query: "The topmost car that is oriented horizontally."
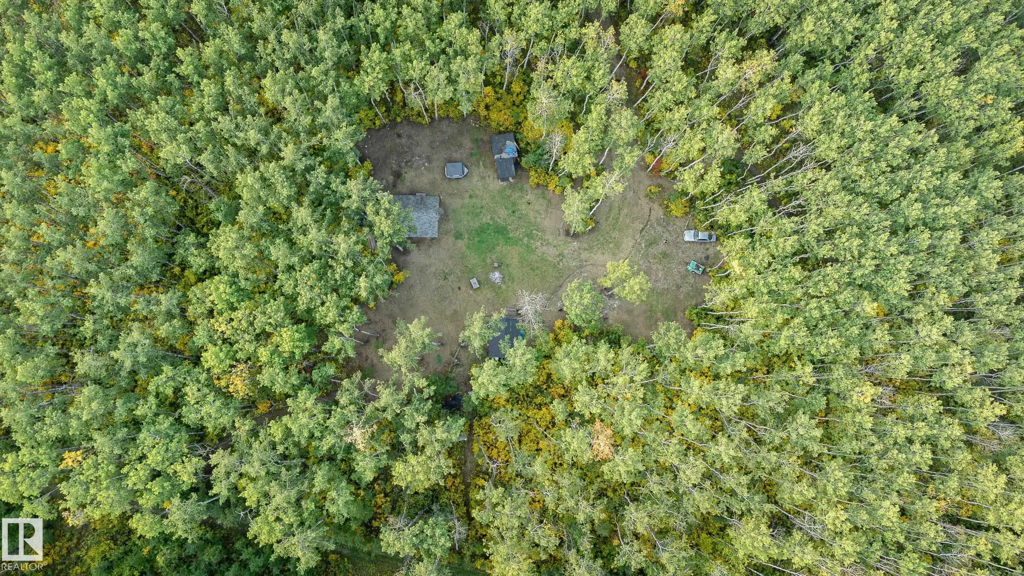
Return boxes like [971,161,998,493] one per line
[684,229,717,243]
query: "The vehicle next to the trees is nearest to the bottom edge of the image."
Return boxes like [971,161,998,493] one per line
[687,260,705,275]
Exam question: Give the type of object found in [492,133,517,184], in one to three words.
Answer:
shed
